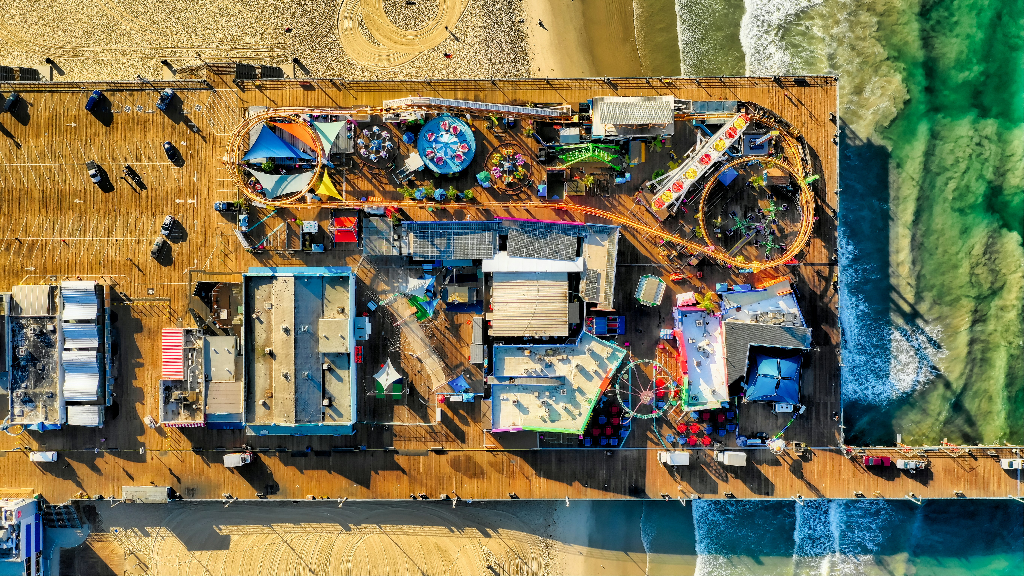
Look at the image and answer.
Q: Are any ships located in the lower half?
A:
No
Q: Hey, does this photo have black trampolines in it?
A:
No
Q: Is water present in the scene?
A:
Yes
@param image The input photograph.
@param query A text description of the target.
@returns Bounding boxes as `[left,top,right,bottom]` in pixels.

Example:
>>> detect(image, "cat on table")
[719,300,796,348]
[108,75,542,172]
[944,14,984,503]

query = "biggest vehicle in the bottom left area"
[221,449,259,467]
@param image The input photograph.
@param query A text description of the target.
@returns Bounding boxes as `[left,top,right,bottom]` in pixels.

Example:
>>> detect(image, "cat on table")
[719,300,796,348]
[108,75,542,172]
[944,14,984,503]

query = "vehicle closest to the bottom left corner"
[30,451,59,463]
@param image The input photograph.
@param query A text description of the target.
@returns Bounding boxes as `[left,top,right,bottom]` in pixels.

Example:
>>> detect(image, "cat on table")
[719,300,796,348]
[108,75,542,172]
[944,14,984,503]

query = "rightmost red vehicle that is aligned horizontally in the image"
[862,455,890,467]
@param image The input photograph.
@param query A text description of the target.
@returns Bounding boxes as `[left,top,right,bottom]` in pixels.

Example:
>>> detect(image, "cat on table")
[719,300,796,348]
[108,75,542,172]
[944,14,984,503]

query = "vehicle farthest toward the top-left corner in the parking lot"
[1,91,21,115]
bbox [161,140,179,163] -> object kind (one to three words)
car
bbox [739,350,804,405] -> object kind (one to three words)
tent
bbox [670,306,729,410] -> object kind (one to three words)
building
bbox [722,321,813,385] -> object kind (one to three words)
house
